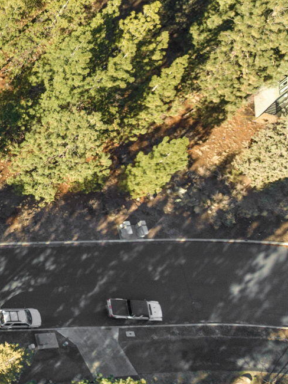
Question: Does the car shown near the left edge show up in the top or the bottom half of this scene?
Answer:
bottom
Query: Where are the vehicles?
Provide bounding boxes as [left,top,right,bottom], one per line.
[0,307,46,331]
[107,300,168,324]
